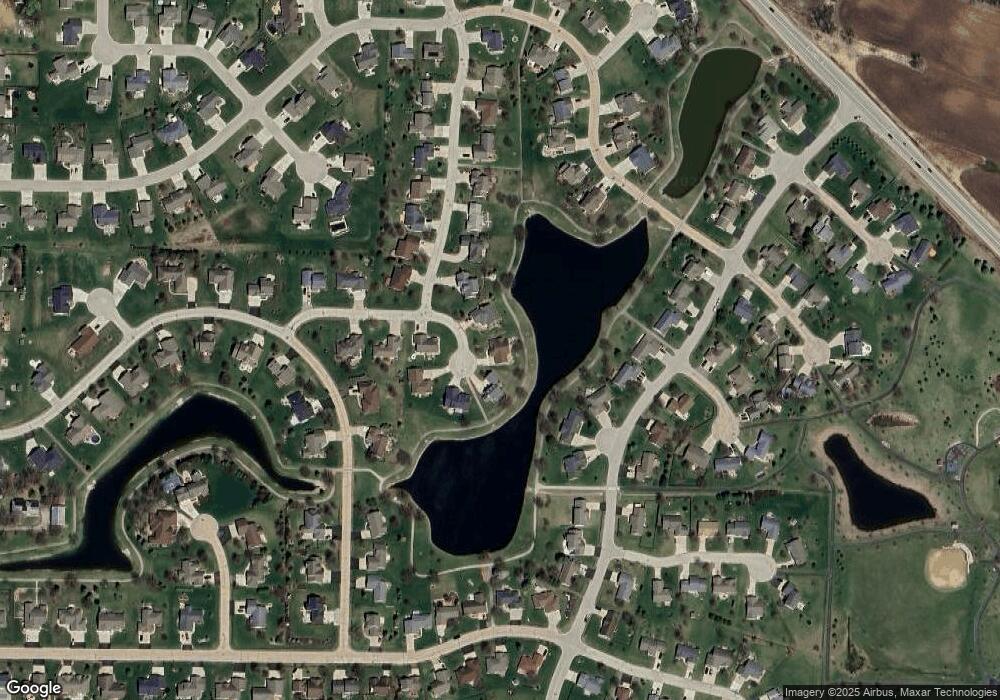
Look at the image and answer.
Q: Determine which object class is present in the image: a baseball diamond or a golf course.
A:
baseball diamond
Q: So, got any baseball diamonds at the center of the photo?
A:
No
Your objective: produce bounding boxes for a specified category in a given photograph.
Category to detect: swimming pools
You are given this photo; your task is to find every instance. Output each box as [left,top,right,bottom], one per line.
[85,432,101,444]
[327,217,350,236]
[266,20,279,35]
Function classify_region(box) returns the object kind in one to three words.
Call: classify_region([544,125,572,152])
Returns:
house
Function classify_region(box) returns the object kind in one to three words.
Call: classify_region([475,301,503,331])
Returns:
house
